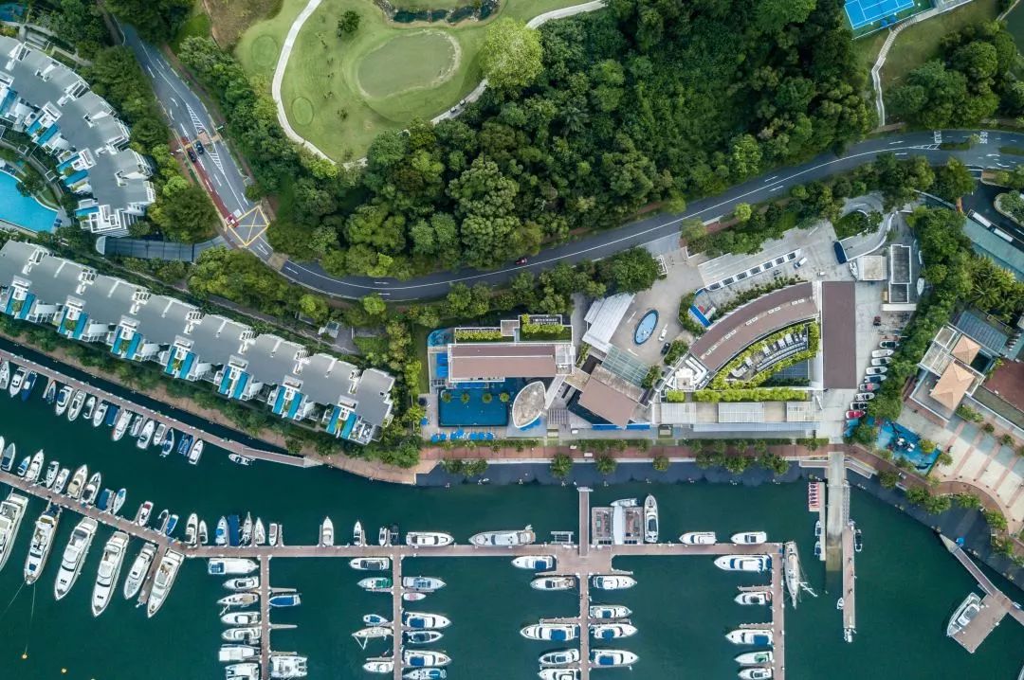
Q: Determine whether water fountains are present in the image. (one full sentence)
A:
Yes, a water fountain can be made out from above.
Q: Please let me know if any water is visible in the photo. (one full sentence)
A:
Yes, water shows up in the scene.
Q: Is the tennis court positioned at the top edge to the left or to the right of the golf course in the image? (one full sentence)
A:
From the viewer's perspective, the tennis court positioned at the top edge falls to the right of the golf course.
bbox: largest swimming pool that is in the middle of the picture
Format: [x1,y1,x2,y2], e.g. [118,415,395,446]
[438,378,539,428]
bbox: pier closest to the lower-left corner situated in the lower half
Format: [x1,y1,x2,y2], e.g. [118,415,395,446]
[0,470,186,603]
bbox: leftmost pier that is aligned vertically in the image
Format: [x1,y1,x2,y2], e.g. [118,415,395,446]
[261,557,298,680]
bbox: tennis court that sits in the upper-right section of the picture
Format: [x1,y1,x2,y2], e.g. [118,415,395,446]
[838,0,931,41]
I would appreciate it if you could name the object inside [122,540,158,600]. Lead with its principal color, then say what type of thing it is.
white boat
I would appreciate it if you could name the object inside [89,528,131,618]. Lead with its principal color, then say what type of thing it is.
white boat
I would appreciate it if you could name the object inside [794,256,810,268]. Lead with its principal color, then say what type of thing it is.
white vehicle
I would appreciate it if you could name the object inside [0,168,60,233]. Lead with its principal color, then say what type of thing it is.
blue swimming pool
